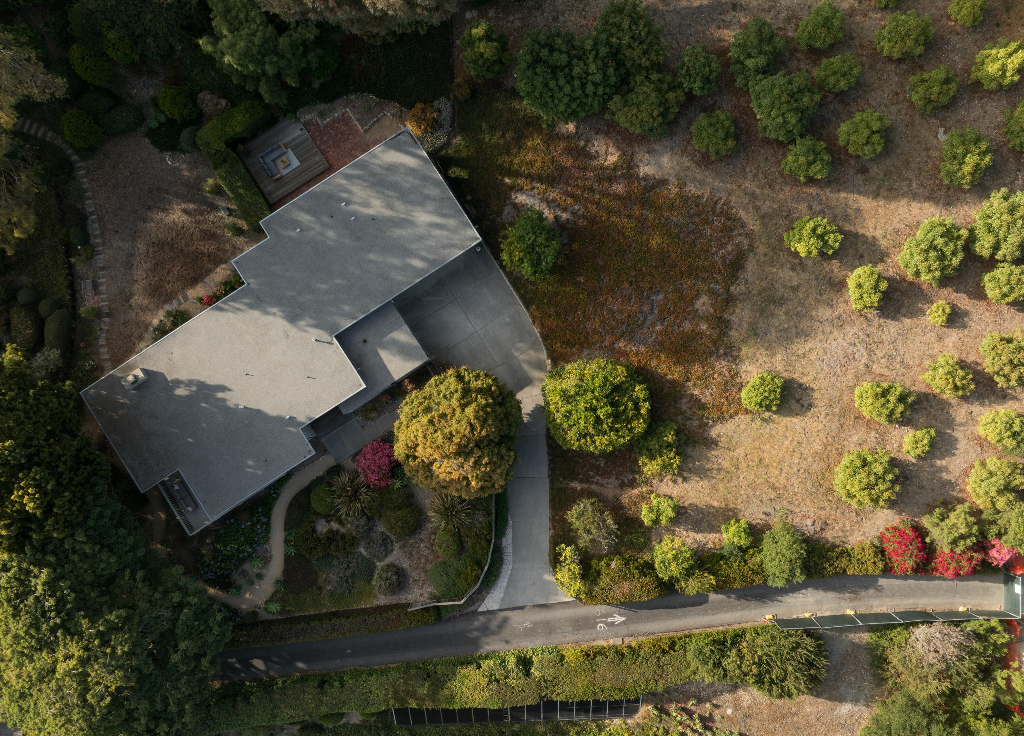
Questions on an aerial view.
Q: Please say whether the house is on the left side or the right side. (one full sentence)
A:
It is on the left.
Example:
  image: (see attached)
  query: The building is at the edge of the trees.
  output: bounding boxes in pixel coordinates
[81,128,482,535]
